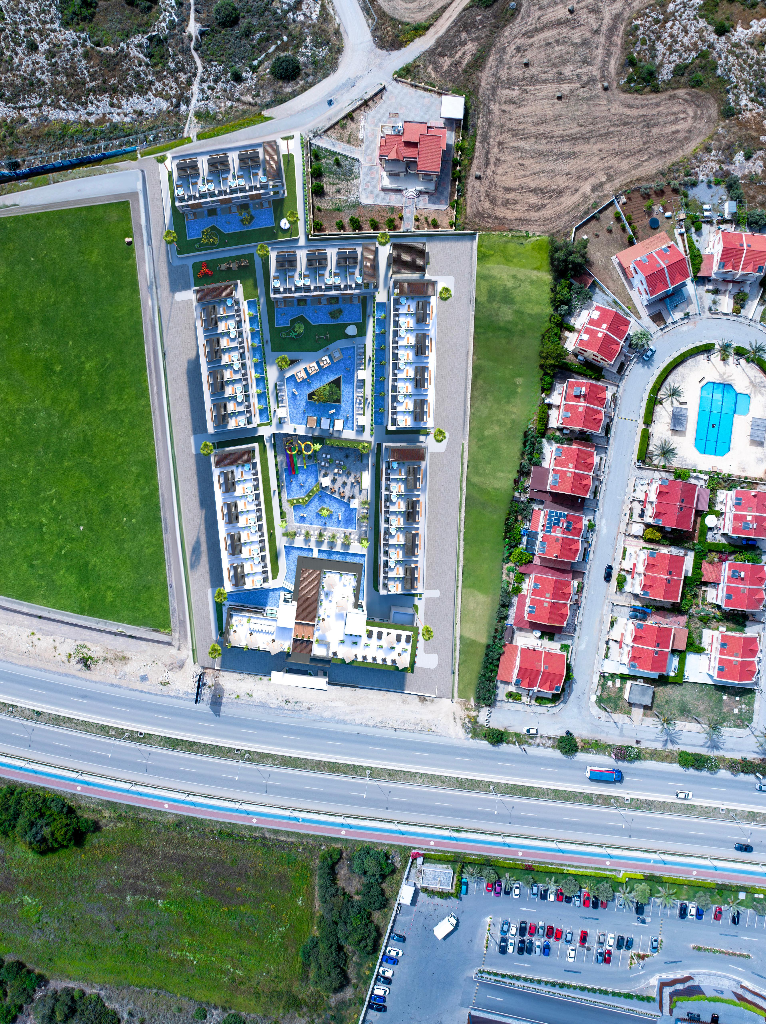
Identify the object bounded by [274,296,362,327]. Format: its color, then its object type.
blue swimming pool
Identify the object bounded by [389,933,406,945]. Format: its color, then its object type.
blue vehicle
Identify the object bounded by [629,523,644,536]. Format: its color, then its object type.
white gazebo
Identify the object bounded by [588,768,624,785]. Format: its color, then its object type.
blue vehicle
